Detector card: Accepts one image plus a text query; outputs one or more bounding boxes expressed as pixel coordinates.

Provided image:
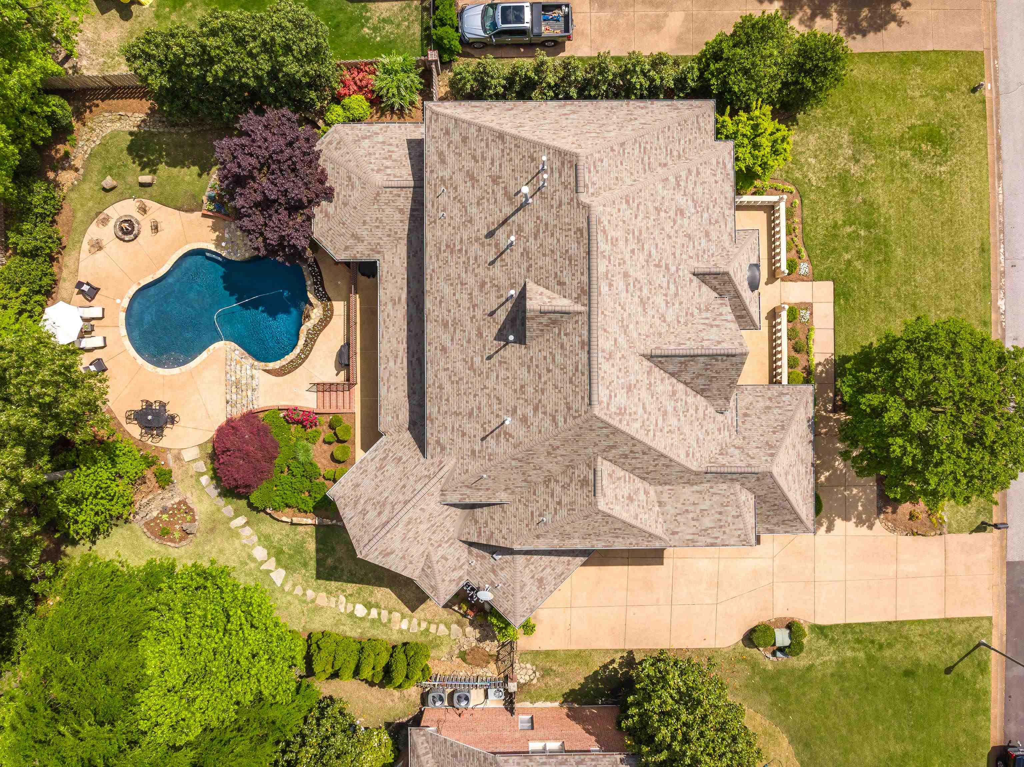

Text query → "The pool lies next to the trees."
[112,238,323,376]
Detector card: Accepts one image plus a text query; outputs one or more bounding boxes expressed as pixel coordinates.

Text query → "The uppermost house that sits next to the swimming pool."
[310,97,817,630]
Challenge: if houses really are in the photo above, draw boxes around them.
[407,706,694,767]
[310,97,817,630]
